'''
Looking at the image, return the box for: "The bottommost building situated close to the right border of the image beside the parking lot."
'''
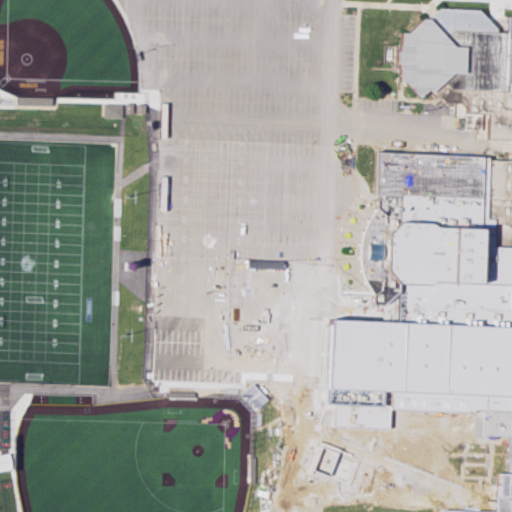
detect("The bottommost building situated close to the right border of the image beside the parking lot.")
[328,152,512,428]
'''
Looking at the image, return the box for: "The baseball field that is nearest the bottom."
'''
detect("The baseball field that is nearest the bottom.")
[18,396,250,512]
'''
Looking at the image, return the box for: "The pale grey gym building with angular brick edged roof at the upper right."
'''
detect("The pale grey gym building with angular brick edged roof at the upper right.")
[398,10,512,98]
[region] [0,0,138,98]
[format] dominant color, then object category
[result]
green baseball field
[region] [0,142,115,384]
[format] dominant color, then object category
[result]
green sports field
